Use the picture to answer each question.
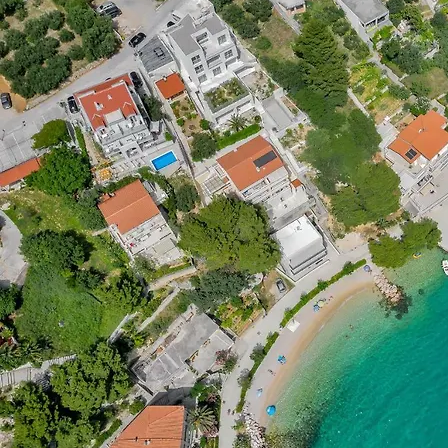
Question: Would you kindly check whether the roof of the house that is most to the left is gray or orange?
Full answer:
The color of the roof of the house that is most to the left is orange.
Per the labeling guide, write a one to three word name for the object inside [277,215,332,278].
house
